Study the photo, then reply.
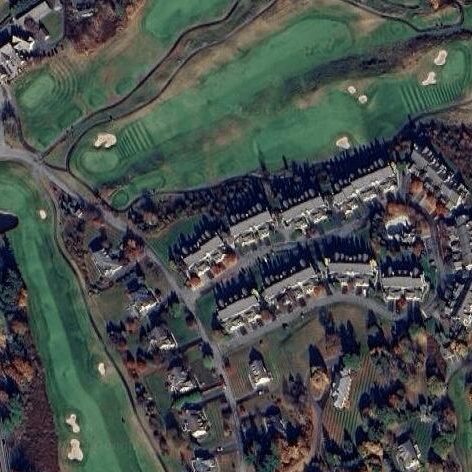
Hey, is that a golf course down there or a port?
golf course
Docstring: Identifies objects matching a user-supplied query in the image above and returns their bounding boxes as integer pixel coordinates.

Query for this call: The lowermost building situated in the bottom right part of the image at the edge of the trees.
[396,441,421,472]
